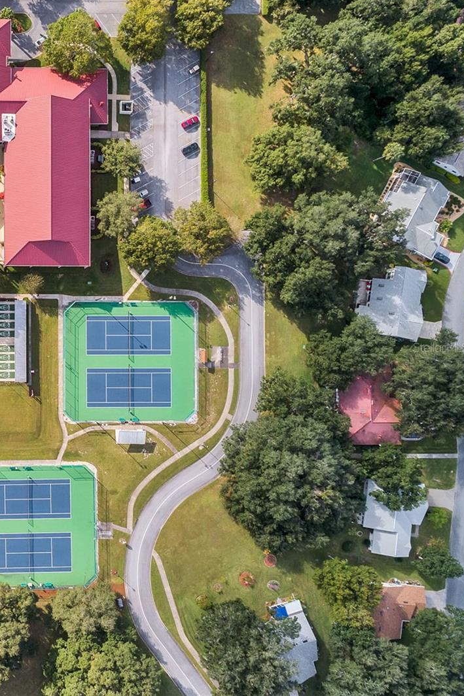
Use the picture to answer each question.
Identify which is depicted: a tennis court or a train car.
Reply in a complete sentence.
Visible in the photo is a tennis court.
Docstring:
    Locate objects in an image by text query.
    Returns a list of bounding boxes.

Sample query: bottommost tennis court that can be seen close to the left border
[0,465,98,588]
